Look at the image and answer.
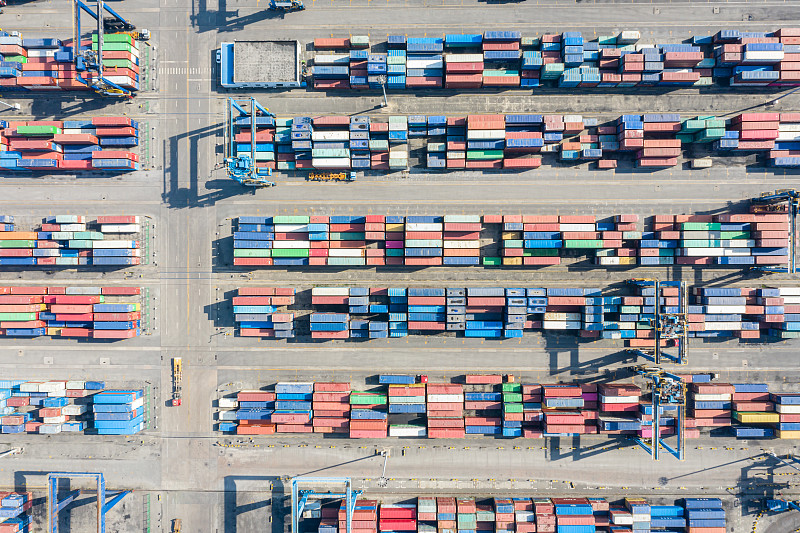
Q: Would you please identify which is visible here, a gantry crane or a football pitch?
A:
gantry crane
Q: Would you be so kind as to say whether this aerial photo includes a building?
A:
Yes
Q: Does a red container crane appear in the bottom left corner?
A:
No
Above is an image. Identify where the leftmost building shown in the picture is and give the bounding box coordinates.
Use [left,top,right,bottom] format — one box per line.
[220,40,302,90]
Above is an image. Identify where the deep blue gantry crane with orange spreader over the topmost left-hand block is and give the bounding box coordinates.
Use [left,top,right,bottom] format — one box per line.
[55,0,140,99]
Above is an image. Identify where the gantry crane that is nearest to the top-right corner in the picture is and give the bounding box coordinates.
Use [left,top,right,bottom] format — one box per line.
[745,184,800,274]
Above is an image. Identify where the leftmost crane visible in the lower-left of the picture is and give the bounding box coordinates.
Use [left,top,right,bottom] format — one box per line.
[44,470,137,533]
